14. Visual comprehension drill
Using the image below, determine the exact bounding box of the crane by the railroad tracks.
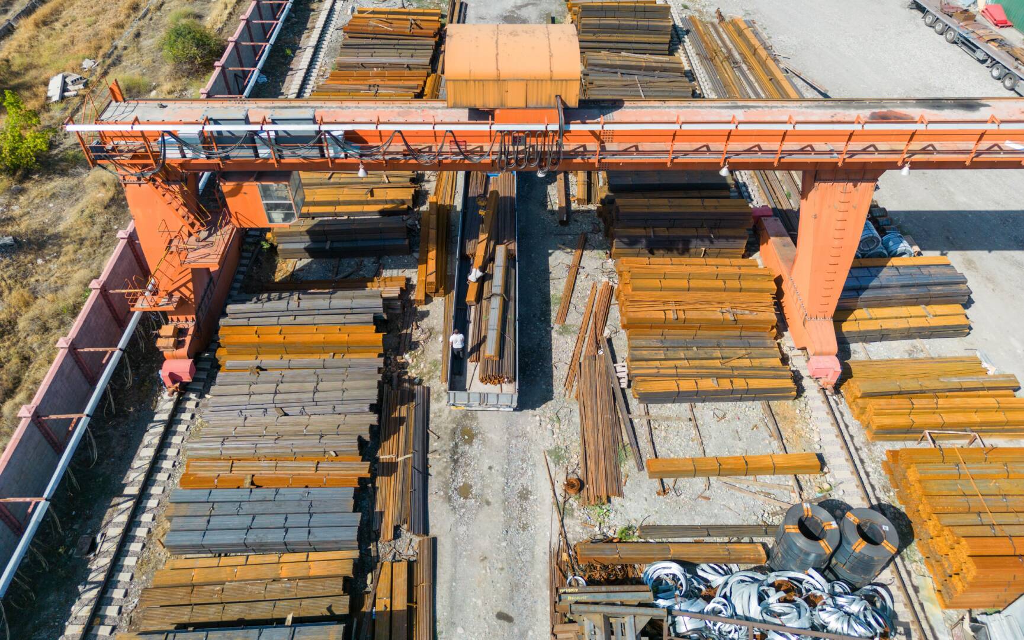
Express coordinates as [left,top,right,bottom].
[58,69,1024,394]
